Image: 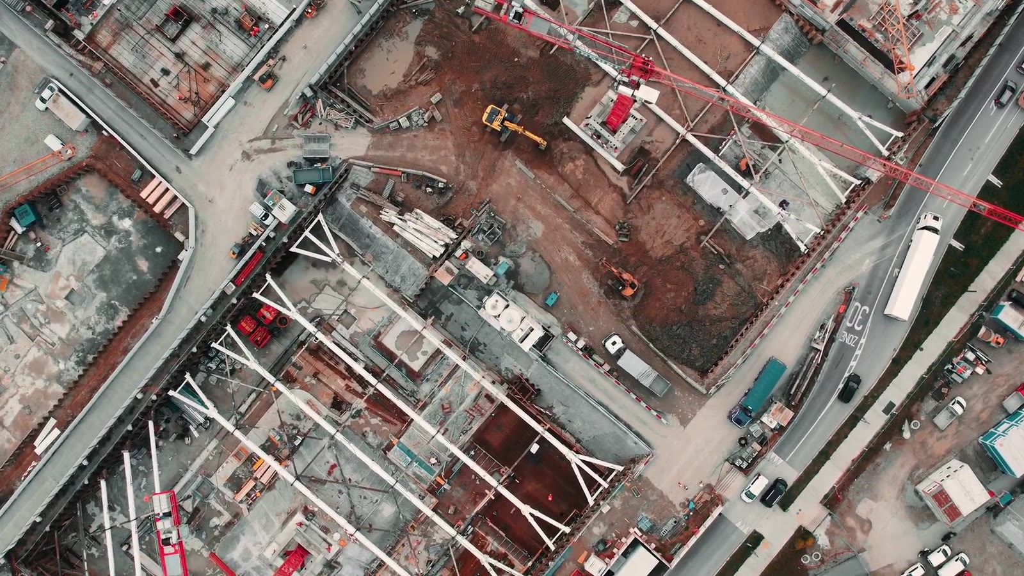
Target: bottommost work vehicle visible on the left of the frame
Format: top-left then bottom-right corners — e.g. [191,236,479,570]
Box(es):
[226,233,258,259]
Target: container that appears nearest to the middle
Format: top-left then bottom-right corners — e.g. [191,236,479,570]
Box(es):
[464,256,496,284]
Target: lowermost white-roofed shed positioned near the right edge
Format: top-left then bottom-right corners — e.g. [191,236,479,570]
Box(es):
[912,455,993,528]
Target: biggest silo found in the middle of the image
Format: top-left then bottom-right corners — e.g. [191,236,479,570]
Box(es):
[495,301,528,335]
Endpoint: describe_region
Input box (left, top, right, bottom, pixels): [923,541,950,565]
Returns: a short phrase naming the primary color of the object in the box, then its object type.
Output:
white car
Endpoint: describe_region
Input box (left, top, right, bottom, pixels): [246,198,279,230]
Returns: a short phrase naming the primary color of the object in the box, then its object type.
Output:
white truck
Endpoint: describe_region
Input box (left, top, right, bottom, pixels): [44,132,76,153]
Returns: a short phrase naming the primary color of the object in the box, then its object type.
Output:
white vehicle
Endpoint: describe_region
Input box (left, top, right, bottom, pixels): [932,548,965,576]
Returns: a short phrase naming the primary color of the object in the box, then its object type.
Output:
white van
